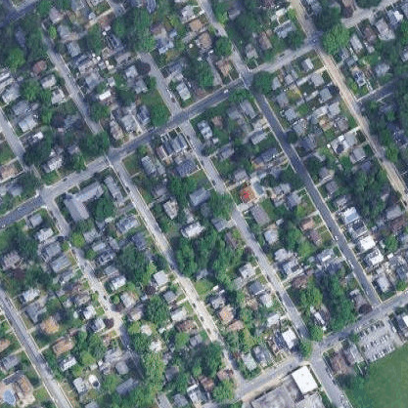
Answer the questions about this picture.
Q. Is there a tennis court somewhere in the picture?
No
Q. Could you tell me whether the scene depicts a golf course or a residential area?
residential area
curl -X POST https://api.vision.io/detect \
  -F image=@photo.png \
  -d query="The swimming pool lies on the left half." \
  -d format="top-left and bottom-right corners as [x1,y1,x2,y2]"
[2,390,16,406]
